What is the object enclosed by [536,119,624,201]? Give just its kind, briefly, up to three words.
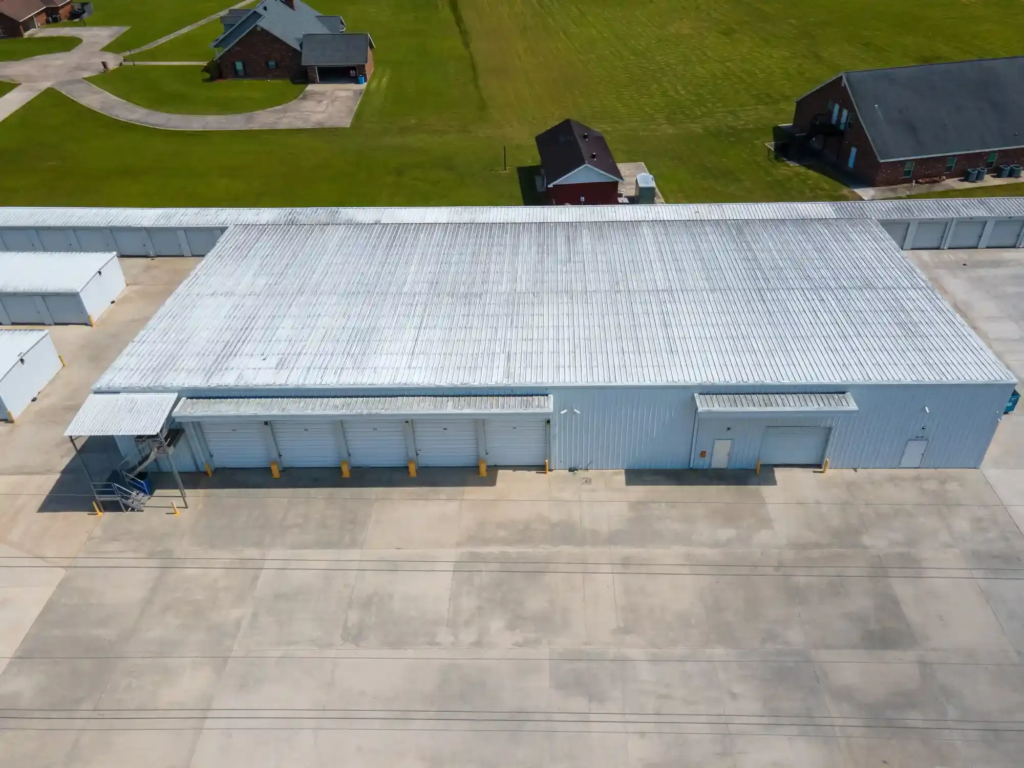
shed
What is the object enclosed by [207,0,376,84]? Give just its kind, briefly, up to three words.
house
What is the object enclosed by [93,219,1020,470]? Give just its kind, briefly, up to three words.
warehouse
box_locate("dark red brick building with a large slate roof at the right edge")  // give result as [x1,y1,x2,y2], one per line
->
[788,57,1024,186]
